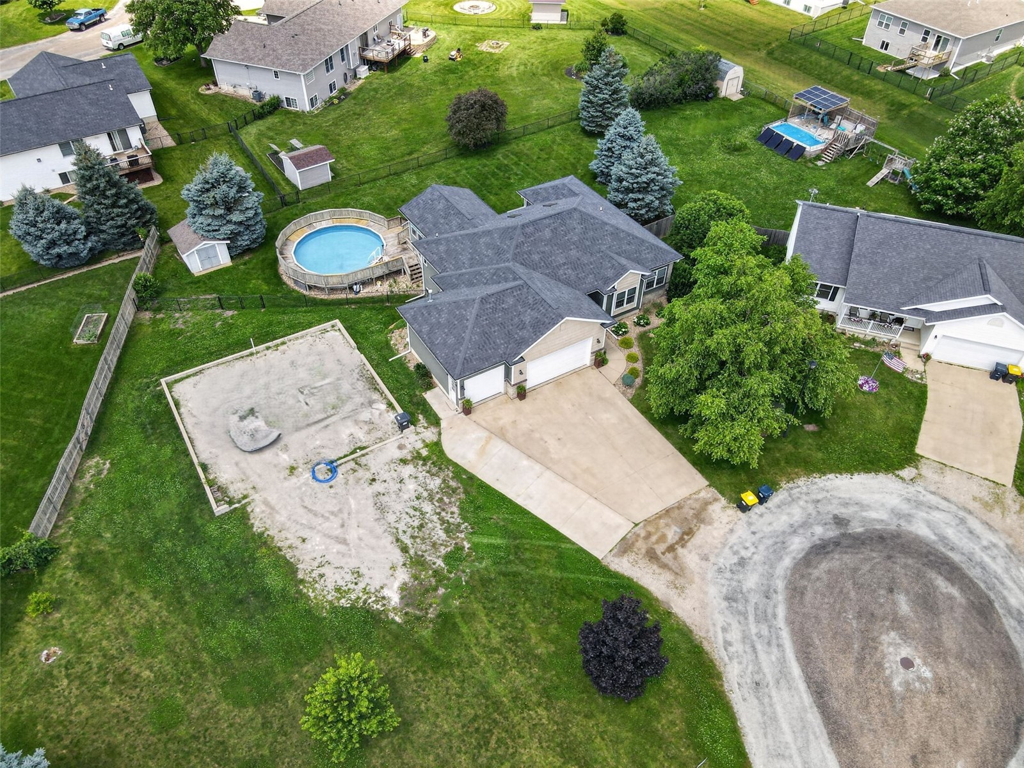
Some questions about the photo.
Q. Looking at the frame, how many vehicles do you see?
two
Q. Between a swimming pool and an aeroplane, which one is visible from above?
swimming pool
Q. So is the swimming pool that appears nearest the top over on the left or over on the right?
right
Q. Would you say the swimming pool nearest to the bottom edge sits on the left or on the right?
left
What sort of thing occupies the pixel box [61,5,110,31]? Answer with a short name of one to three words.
truck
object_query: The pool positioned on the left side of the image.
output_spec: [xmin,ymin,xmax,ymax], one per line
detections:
[290,224,389,291]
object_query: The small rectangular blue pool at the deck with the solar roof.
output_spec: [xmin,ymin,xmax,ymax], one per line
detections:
[767,122,829,160]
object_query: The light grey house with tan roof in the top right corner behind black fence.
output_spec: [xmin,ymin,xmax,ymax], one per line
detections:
[852,0,1024,76]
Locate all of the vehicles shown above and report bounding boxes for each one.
[61,5,110,31]
[97,19,149,50]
